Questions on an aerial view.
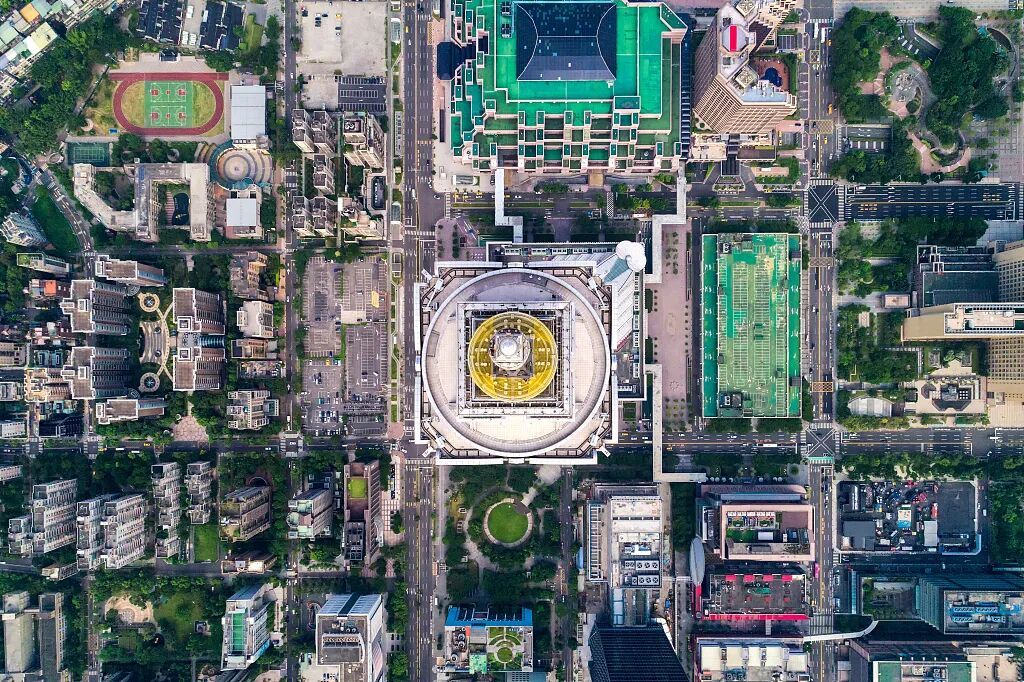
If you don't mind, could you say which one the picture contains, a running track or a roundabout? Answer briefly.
running track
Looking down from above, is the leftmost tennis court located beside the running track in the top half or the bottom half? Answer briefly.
top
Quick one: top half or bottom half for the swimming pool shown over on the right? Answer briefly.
top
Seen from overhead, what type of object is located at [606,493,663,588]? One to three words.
building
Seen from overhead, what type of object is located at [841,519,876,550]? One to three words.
shed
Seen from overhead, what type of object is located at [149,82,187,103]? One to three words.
basketball court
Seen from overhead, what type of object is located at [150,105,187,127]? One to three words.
basketball court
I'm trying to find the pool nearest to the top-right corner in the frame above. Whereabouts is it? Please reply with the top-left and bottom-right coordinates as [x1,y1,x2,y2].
[755,58,789,94]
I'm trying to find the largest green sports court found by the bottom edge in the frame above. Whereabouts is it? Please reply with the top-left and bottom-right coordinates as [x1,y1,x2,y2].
[230,612,248,654]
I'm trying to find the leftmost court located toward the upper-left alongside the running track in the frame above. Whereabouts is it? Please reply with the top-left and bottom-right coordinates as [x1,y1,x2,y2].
[65,142,111,165]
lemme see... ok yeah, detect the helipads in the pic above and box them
[721,25,748,54]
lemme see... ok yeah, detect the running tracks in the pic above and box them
[109,73,229,135]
